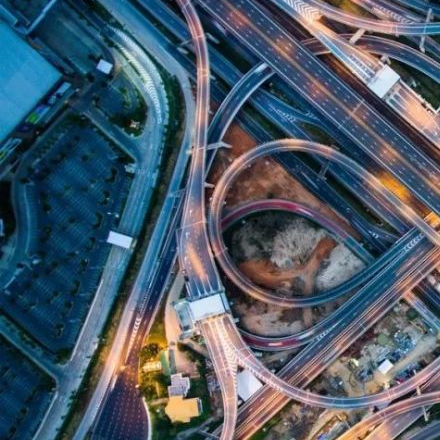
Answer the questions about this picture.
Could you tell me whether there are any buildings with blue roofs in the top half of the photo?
Yes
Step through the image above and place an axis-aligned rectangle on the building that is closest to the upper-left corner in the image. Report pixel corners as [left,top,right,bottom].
[0,0,59,34]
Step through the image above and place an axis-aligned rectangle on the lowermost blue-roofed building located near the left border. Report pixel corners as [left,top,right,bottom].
[0,18,70,150]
